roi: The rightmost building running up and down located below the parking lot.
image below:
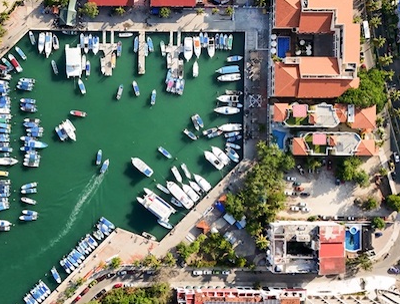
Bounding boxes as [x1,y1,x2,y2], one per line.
[358,223,376,258]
